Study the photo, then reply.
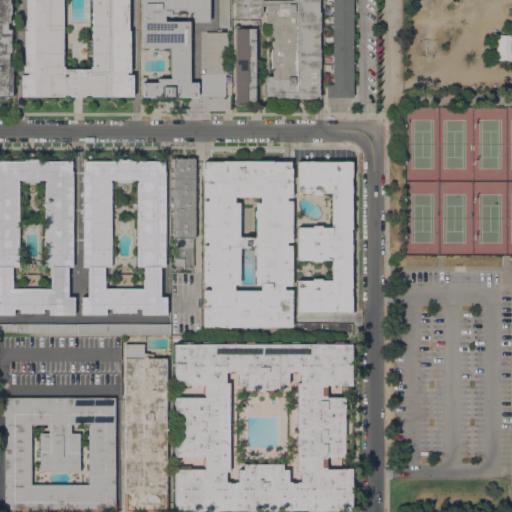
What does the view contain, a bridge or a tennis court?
tennis court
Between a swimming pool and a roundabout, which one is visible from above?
swimming pool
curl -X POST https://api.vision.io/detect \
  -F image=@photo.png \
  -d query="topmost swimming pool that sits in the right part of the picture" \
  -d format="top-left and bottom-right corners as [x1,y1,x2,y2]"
[299,200,322,220]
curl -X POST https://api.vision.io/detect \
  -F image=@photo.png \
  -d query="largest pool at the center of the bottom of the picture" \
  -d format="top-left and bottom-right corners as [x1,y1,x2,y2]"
[248,418,278,448]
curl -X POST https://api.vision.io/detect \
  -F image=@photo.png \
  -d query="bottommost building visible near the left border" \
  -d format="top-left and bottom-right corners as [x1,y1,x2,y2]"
[5,398,116,510]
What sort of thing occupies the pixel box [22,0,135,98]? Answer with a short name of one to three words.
building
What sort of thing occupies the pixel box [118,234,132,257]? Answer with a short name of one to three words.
swimming pool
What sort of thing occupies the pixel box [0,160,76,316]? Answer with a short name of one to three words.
building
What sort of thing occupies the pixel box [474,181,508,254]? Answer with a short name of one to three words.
tennis court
